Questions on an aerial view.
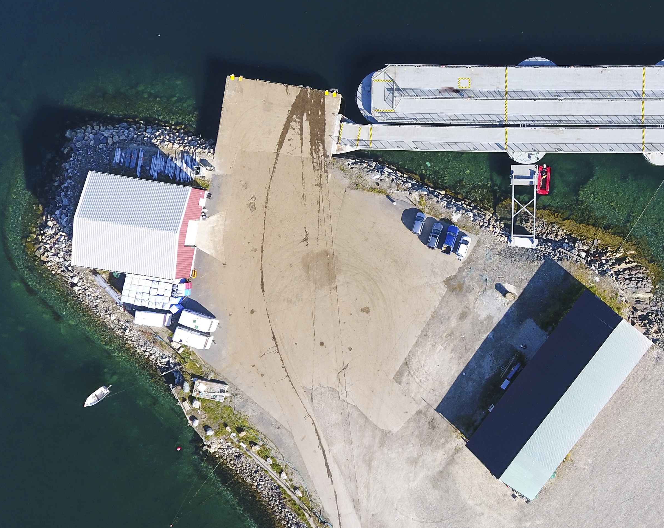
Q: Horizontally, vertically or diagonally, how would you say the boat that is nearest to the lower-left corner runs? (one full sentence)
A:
The boat that is nearest to the lower-left corner is oriented diagonally.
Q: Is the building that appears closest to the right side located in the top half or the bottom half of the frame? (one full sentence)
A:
The building that appears closest to the right side is in the bottom half of the image.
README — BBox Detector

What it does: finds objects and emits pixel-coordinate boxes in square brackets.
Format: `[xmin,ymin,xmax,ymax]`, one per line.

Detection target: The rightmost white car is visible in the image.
[456,235,470,262]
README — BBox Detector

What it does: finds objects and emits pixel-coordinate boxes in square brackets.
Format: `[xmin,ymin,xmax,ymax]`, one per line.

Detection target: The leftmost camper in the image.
[135,308,180,326]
